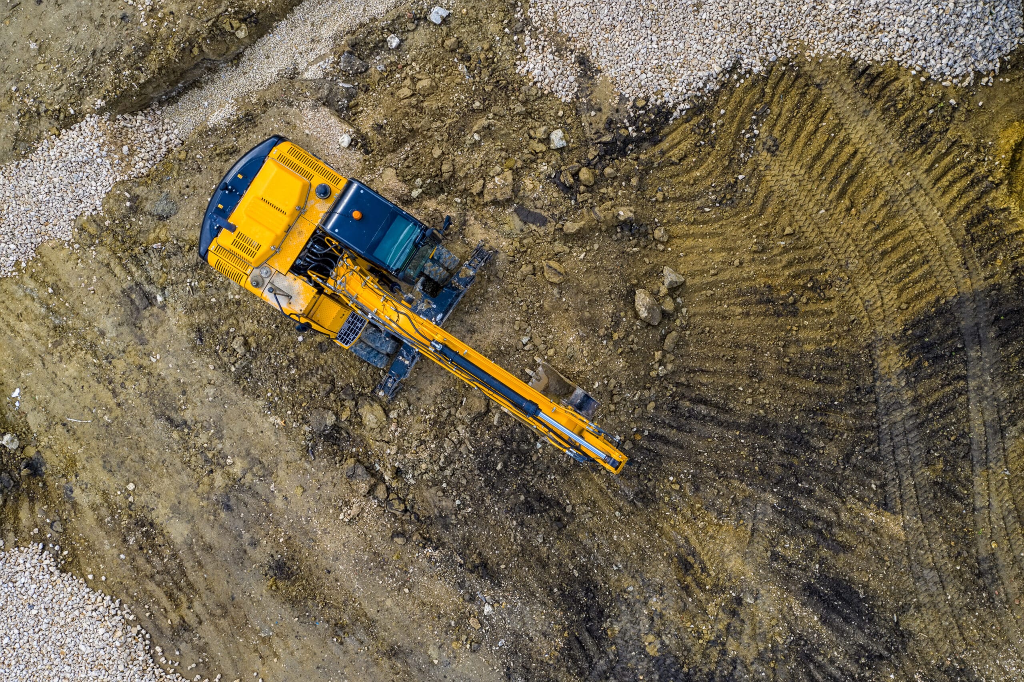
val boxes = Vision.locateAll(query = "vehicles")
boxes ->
[199,135,630,476]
